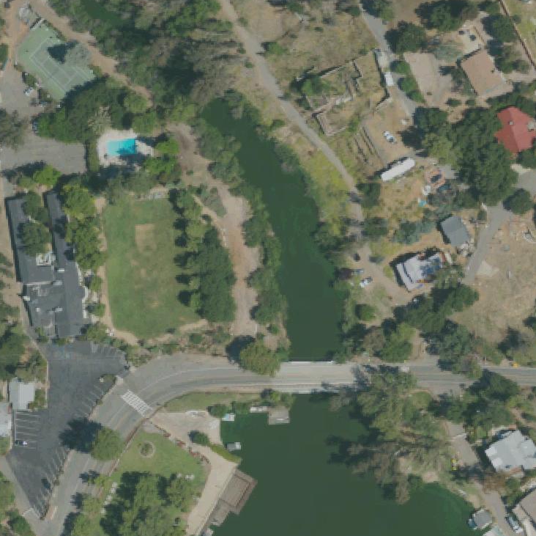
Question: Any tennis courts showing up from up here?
Yes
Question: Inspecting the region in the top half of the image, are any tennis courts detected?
Yes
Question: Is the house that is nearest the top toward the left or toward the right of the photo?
right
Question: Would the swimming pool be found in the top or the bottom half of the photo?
top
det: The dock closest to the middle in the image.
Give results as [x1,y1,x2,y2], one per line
[269,407,289,424]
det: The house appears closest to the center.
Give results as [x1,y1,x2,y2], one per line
[397,251,452,291]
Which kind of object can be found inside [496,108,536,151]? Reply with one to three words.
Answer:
house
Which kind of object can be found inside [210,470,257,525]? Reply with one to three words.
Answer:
pier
